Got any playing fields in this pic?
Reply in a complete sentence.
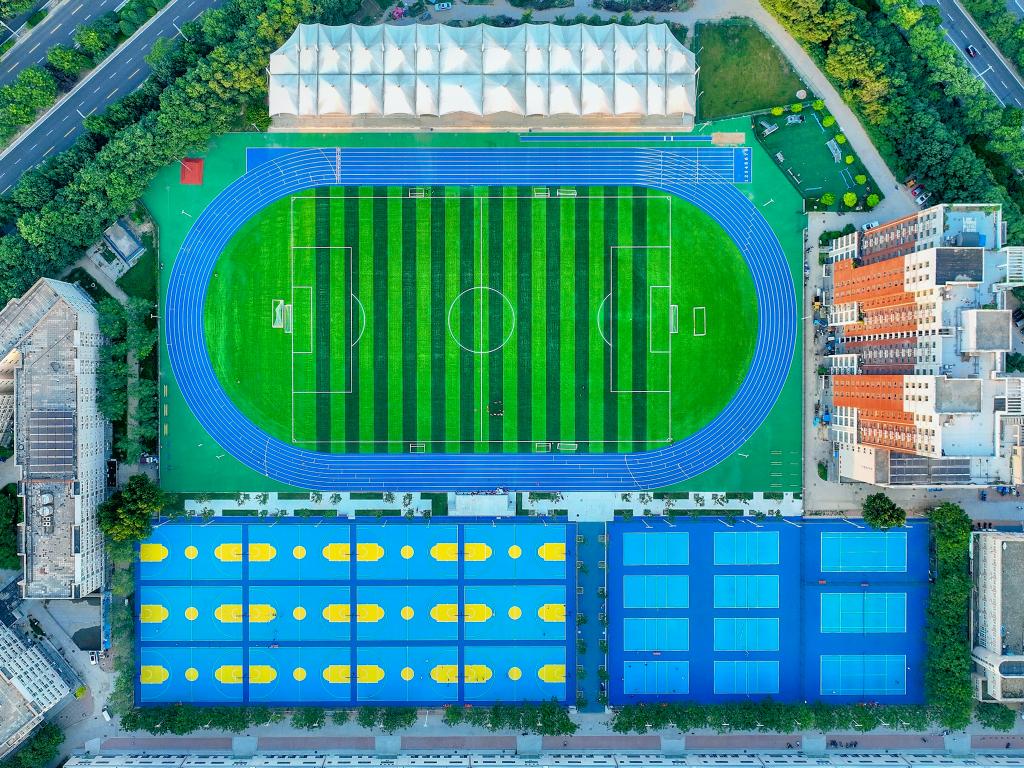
Yes, a playing field can be made out from above.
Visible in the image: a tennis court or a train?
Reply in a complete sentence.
I can see a tennis court in this picture.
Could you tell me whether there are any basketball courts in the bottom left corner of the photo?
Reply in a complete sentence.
Yes, a basketball court appears in the bottom left corner of the photo.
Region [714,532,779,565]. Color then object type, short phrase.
blue sports court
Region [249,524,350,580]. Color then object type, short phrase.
blue basketball court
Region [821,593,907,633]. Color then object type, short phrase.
blue tennis court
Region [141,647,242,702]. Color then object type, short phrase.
blue basketball court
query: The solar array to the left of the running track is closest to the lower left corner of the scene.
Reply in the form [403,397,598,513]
[30,411,74,471]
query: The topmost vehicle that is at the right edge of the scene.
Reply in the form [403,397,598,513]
[965,42,980,58]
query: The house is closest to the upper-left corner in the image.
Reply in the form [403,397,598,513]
[103,222,150,264]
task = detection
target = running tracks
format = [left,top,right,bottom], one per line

[165,147,797,491]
